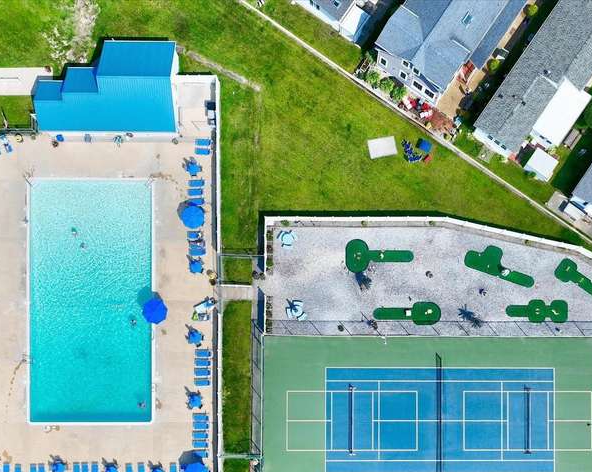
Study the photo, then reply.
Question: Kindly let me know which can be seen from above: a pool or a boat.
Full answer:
Of the two, only a pool appears.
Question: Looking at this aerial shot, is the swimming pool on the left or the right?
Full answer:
The swimming pool sits on the left side.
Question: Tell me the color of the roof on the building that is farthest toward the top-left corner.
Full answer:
The color of the roof on the building that is farthest toward the top-left corner is blue.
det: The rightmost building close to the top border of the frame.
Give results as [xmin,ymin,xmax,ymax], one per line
[472,0,592,160]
